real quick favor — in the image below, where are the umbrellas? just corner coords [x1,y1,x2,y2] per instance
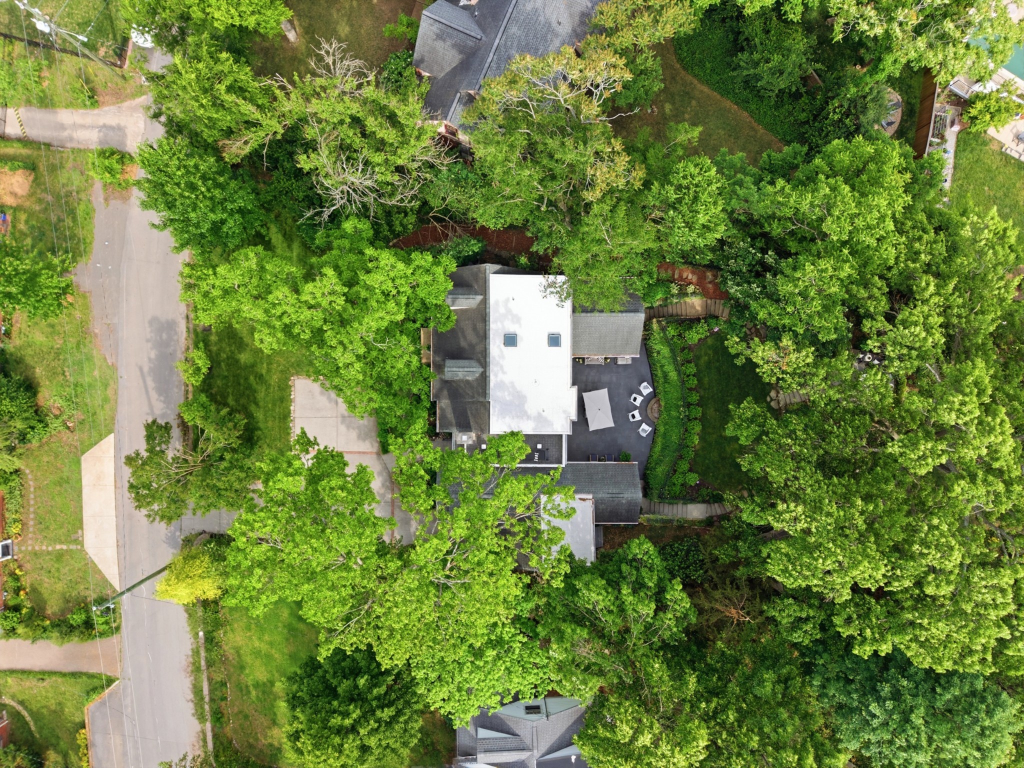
[582,388,614,431]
